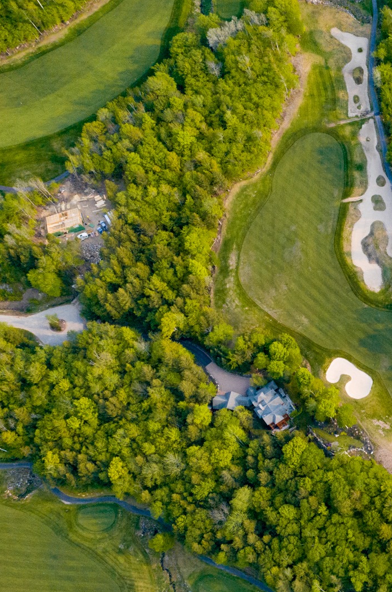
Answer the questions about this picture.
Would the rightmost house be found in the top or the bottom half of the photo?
bottom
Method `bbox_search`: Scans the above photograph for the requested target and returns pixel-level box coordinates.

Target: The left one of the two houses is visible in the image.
[46,209,85,240]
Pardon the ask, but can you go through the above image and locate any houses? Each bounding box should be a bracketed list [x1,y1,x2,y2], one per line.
[46,209,85,240]
[211,380,298,433]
